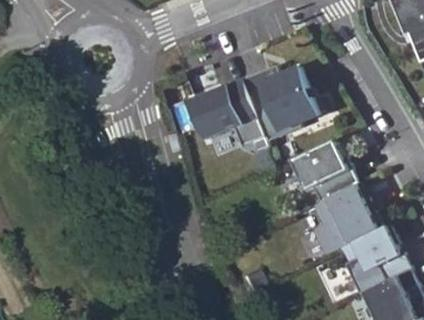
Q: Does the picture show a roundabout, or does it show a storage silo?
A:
roundabout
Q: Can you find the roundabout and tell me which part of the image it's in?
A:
top left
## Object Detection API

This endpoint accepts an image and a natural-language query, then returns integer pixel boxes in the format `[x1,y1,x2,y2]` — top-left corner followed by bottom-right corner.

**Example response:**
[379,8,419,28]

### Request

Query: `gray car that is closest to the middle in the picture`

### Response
[227,58,242,81]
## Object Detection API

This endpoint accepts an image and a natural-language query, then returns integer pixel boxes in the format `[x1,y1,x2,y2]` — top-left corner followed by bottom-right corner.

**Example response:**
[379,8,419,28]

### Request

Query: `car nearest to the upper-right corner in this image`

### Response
[373,110,388,132]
